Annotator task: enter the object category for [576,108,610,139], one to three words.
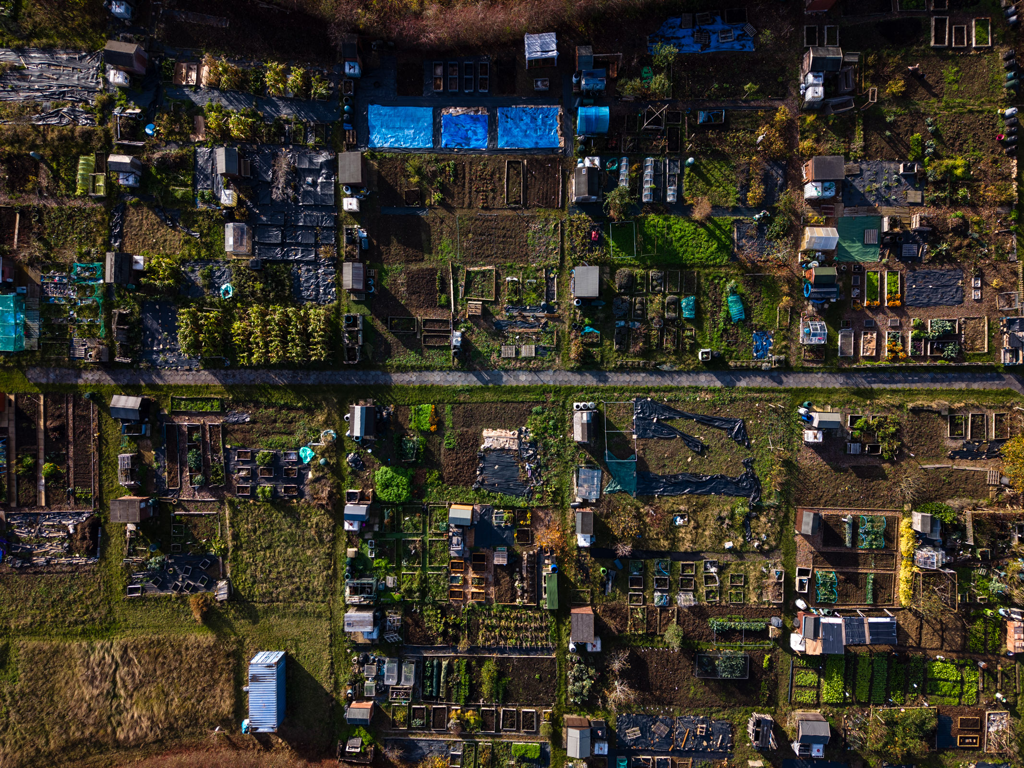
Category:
greenhouse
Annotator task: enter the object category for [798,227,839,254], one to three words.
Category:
greenhouse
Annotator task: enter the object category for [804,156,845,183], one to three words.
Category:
shed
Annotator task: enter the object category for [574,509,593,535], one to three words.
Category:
shed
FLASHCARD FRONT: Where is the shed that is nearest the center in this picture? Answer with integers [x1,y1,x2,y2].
[572,411,592,442]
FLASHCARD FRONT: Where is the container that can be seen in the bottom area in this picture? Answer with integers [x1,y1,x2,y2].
[248,650,288,734]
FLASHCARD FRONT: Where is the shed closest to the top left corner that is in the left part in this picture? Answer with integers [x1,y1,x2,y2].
[104,42,149,77]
